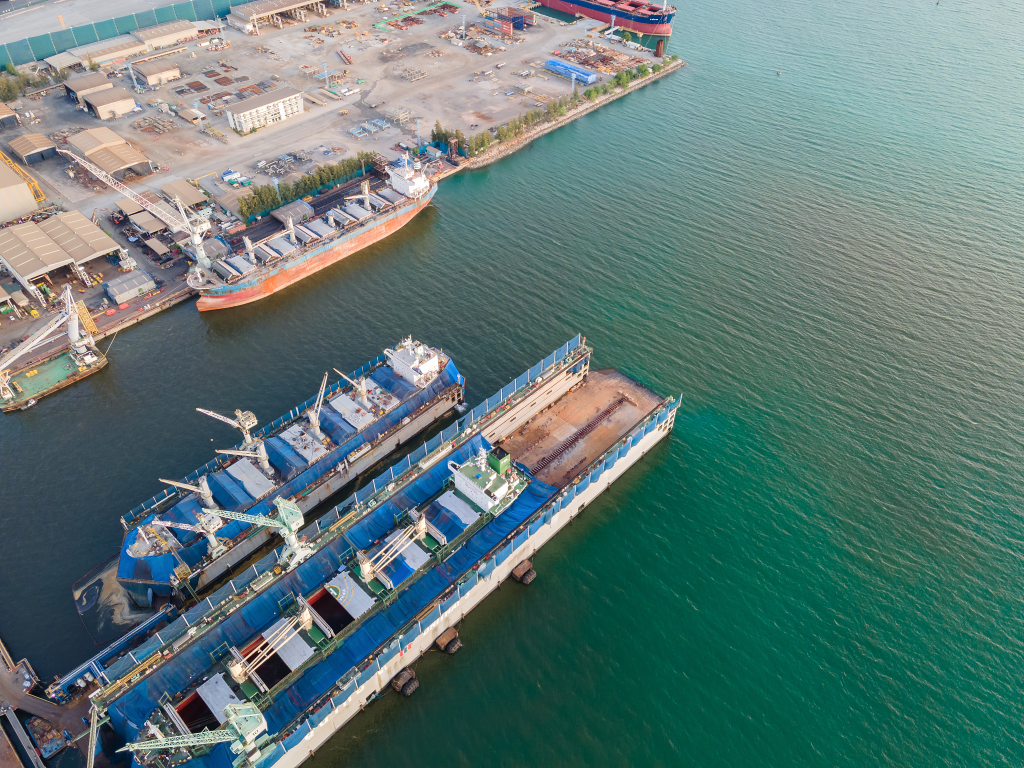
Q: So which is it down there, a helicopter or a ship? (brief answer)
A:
ship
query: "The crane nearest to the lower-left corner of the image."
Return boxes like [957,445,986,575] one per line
[123,712,267,768]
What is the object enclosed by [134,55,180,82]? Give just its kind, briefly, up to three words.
building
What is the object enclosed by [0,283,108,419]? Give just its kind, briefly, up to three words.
ship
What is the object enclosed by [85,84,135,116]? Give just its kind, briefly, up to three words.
building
